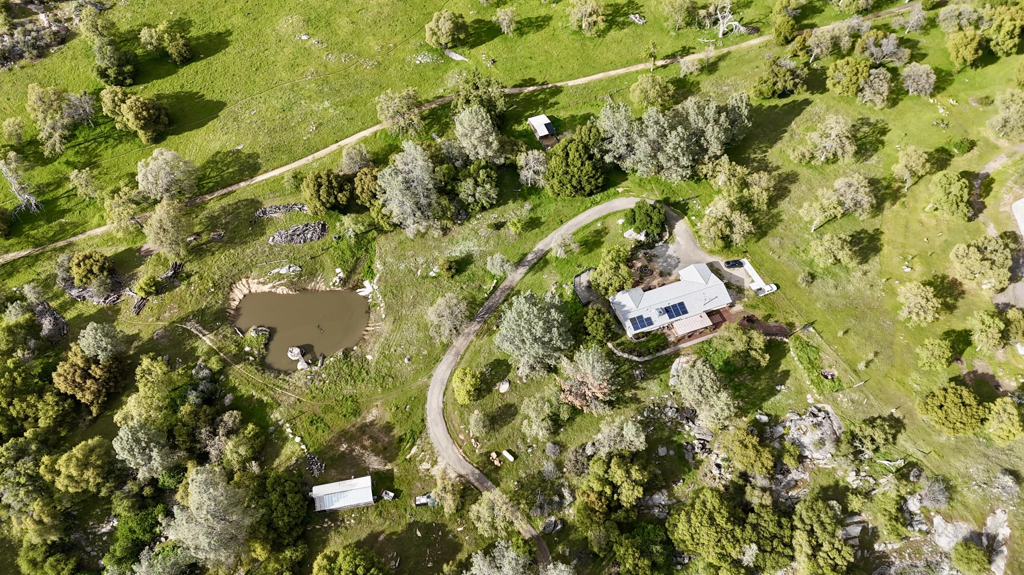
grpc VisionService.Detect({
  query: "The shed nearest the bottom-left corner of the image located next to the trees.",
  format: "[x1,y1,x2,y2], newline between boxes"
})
[313,476,375,515]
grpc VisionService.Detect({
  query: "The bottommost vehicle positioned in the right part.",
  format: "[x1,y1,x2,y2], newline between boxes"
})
[754,285,778,298]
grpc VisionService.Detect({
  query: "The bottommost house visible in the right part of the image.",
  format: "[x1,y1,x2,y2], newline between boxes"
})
[611,264,733,340]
